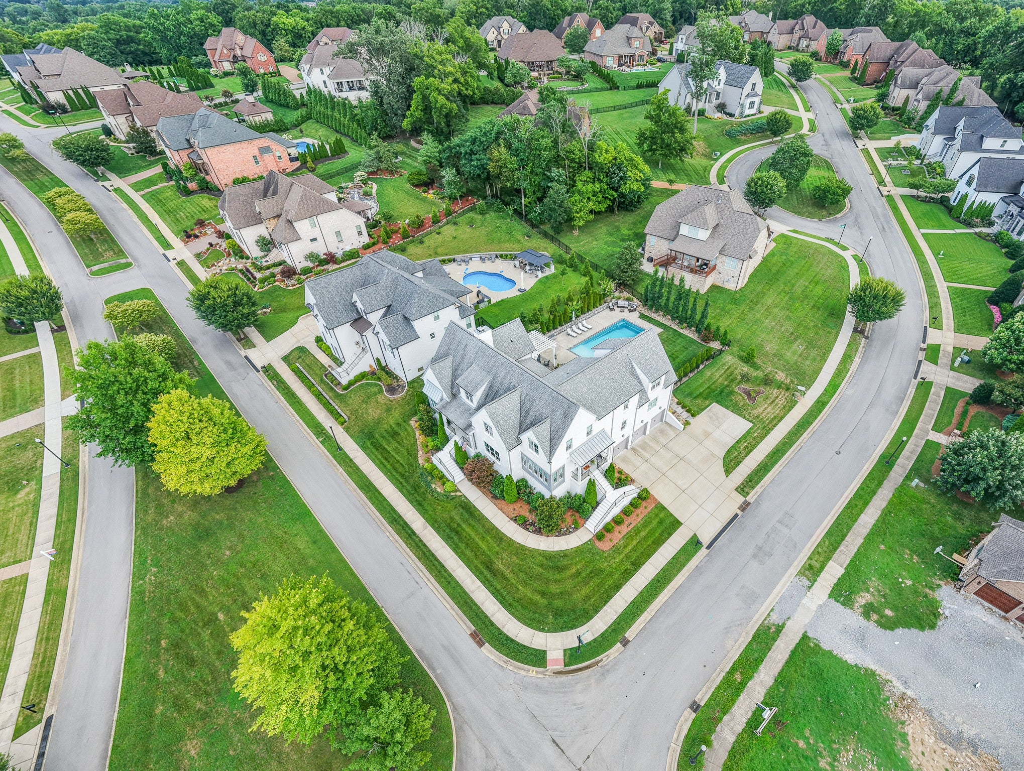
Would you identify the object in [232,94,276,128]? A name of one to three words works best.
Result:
building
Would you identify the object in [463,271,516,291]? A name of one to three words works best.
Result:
swimming pool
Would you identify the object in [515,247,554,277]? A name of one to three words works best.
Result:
gazebo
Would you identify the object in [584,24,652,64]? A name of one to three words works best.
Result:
house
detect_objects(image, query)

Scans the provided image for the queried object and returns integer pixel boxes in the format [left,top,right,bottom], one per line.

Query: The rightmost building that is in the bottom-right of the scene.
[950,517,1024,640]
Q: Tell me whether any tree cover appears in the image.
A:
Yes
